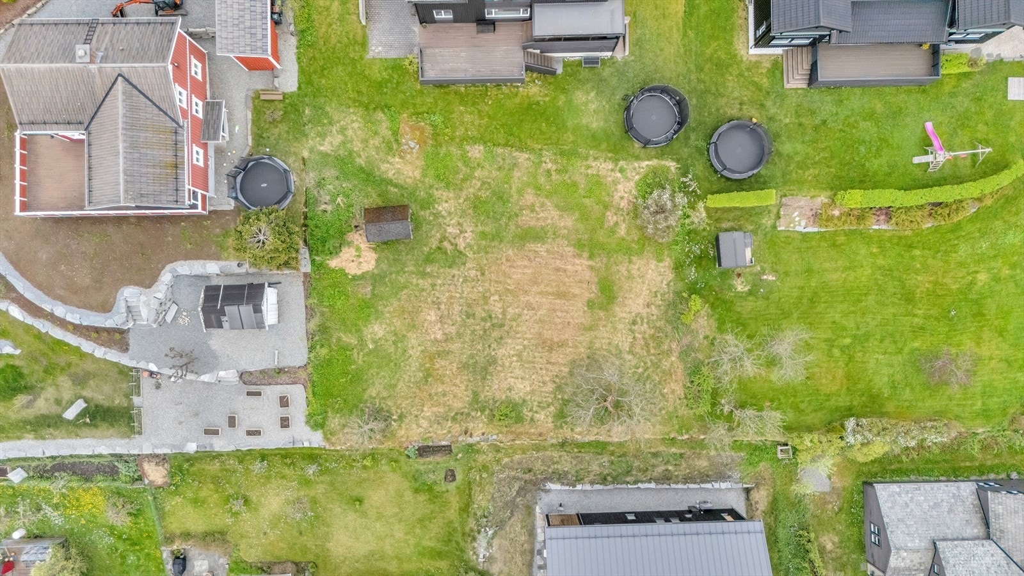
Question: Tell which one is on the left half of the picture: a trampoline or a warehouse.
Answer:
trampoline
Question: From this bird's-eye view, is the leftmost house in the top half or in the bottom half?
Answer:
top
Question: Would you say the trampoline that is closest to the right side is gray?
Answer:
Yes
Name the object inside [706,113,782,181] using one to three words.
trampoline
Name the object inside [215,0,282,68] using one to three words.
building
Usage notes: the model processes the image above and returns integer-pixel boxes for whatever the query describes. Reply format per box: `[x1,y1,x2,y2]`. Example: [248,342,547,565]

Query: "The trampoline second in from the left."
[621,81,690,149]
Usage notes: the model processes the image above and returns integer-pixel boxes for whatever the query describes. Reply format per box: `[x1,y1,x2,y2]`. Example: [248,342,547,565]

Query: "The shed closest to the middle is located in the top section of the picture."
[364,204,416,243]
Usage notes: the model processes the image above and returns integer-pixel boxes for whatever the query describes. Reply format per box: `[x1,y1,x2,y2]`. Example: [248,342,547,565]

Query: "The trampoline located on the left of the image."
[224,152,295,216]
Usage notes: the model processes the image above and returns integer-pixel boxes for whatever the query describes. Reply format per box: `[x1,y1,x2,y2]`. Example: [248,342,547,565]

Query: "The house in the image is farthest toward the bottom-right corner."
[862,477,1024,576]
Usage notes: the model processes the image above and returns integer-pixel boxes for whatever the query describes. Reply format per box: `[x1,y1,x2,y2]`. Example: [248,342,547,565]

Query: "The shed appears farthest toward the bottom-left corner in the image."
[199,281,280,330]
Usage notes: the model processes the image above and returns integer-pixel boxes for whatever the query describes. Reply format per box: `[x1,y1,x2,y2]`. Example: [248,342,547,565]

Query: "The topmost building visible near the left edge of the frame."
[0,16,234,218]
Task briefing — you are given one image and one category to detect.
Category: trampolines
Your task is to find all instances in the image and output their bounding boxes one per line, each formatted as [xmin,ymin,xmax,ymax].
[224,152,295,216]
[706,113,782,181]
[621,81,690,149]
